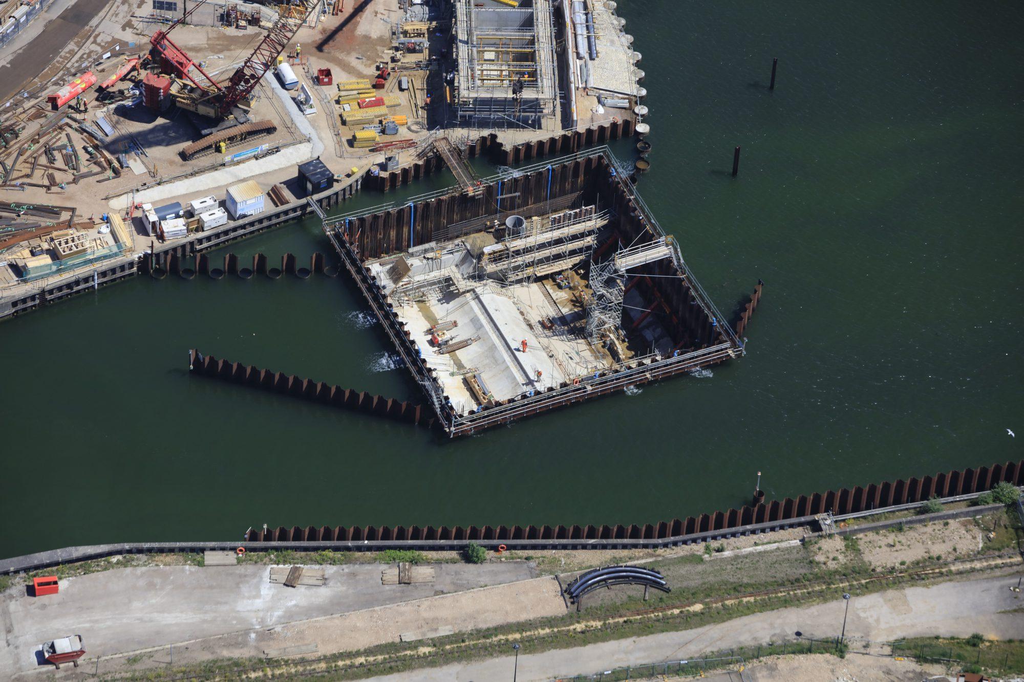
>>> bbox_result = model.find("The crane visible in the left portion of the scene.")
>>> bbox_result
[141,0,321,155]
